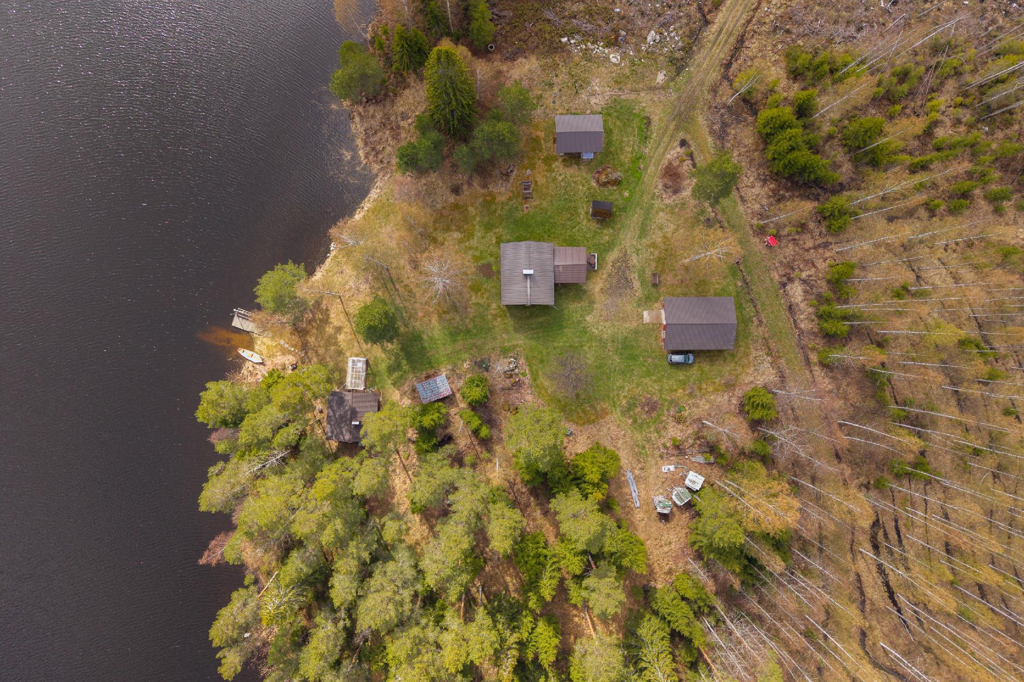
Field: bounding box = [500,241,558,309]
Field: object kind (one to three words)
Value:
house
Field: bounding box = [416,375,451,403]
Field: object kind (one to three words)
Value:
shed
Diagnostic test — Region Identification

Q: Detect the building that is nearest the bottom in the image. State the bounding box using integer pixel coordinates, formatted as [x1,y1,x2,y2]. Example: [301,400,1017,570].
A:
[327,392,379,444]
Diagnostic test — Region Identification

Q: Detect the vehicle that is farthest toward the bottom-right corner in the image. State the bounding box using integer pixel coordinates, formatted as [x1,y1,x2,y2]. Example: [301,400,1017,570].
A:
[667,352,694,366]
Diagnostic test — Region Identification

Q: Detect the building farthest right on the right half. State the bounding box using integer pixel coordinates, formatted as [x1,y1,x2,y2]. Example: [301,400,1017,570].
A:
[661,297,738,350]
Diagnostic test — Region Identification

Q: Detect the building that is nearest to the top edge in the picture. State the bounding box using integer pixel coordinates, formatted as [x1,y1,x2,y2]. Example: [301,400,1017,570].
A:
[555,115,604,153]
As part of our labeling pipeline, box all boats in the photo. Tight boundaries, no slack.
[237,349,263,364]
